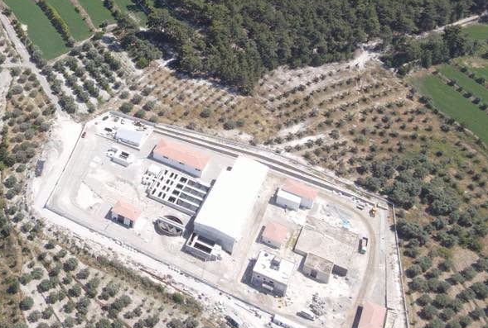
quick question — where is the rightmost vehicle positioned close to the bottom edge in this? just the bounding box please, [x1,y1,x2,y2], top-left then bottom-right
[289,299,325,326]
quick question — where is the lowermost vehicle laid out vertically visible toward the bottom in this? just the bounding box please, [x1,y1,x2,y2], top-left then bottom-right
[358,229,370,252]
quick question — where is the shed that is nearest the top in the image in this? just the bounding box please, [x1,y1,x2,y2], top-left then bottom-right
[115,130,143,151]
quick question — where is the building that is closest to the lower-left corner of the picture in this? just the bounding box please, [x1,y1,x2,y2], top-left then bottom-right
[112,200,141,227]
